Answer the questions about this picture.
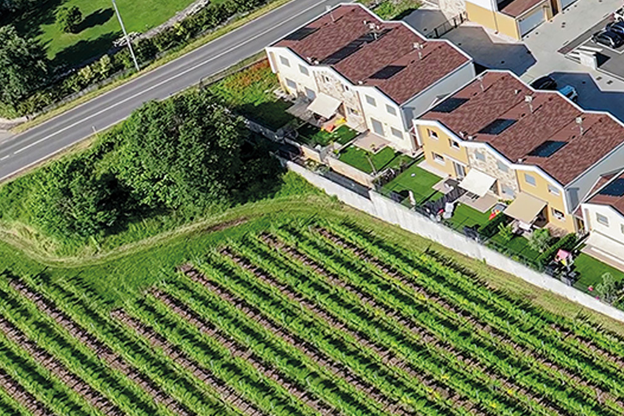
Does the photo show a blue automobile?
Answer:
Yes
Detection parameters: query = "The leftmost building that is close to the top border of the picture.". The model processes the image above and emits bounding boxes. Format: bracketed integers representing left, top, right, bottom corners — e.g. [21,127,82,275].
[267,2,490,149]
